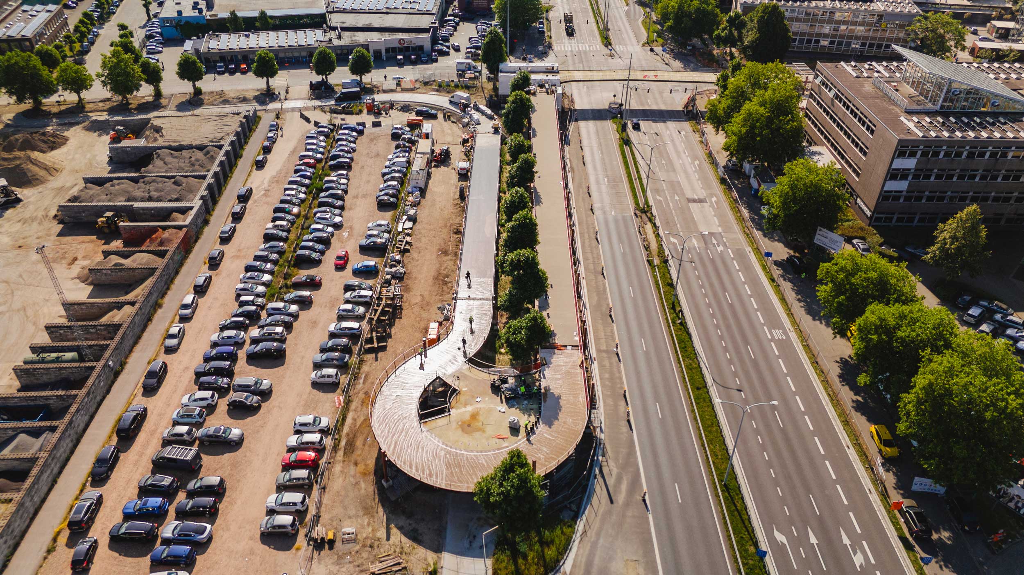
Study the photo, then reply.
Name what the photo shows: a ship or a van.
van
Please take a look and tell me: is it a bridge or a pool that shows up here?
bridge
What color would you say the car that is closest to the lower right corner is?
black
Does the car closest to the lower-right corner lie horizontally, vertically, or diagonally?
diagonally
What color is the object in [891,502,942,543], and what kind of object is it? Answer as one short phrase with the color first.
black car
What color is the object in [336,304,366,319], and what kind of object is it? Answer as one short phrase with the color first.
gray car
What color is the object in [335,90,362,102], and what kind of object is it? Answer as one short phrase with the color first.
black vehicle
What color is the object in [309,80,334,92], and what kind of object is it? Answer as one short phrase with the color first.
black vehicle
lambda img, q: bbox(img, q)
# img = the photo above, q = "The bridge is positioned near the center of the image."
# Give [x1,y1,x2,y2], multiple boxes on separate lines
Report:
[368,65,726,496]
